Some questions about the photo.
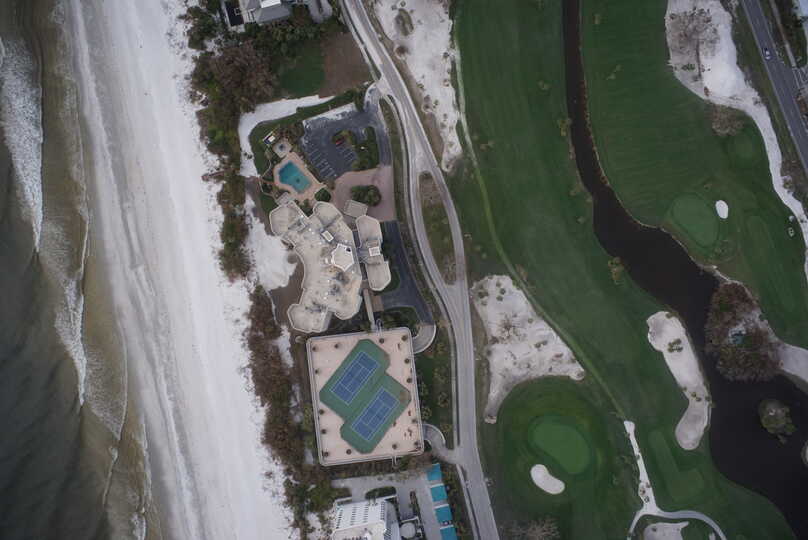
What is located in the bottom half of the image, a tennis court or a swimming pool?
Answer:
tennis court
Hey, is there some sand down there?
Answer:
Yes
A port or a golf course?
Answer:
golf course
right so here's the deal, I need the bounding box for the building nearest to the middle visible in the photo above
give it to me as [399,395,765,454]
[356,215,391,291]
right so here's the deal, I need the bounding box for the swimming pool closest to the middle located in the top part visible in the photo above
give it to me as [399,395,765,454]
[273,151,327,207]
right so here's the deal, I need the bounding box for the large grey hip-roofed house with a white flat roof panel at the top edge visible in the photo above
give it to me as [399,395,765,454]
[221,0,298,32]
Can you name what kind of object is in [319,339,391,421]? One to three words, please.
tennis court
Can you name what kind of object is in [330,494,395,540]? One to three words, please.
building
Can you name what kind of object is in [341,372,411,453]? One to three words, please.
tennis court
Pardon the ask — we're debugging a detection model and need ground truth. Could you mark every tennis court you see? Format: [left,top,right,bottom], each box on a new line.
[319,339,391,421]
[341,372,411,453]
